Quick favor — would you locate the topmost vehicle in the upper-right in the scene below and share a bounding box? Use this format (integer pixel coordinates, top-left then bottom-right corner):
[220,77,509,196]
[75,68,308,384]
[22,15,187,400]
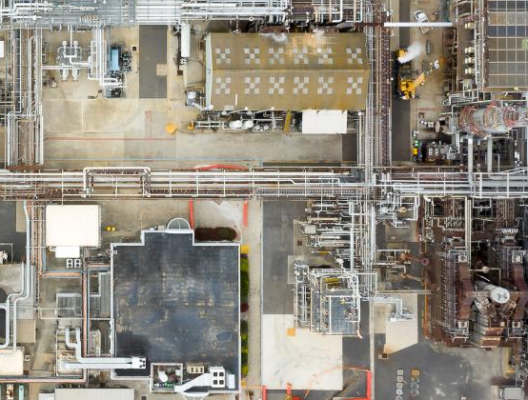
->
[415,4,431,21]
